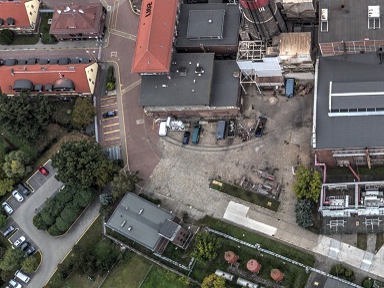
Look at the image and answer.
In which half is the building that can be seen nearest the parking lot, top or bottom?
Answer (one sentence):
You can find the building that can be seen nearest the parking lot in the bottom half.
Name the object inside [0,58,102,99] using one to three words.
building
